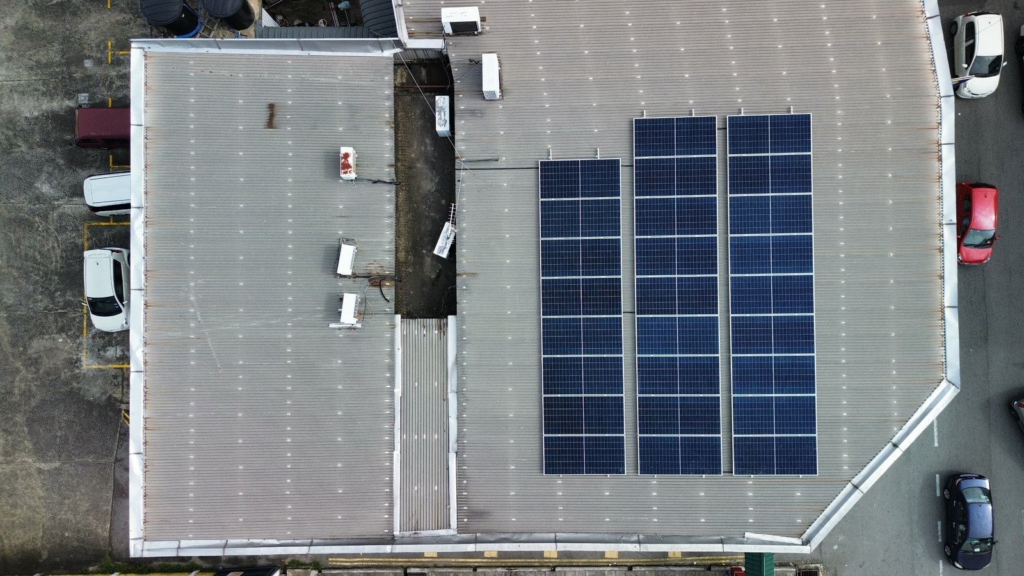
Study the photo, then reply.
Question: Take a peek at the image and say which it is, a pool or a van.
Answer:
van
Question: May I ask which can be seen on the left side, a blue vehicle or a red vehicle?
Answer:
red vehicle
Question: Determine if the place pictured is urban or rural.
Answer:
urban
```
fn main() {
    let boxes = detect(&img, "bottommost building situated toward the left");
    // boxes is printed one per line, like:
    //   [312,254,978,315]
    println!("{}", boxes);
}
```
[130,39,408,556]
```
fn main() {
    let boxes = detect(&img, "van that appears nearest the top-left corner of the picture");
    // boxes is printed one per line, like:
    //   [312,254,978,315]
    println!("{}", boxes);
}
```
[75,108,131,151]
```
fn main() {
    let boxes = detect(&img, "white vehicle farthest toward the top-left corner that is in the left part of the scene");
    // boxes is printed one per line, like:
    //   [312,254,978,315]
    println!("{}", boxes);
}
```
[83,170,131,217]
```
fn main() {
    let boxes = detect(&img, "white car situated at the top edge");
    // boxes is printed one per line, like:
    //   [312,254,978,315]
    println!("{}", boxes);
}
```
[948,12,1005,101]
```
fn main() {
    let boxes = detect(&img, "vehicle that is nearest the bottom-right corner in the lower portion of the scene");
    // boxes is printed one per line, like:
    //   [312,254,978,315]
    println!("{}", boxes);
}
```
[943,471,1000,571]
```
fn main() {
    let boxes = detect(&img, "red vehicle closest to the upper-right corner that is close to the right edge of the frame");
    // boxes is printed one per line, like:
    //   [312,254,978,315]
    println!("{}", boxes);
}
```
[955,183,996,265]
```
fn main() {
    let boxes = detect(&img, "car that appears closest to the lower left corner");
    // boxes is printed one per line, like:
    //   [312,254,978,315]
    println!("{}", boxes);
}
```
[82,249,131,332]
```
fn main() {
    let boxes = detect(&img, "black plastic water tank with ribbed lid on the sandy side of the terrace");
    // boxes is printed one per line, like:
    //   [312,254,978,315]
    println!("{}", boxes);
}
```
[199,0,255,29]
